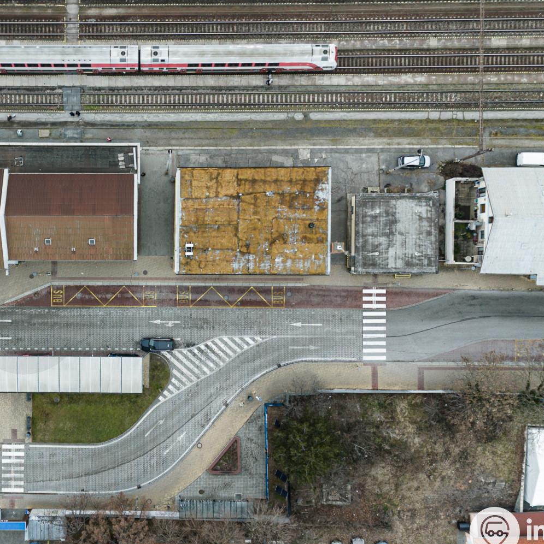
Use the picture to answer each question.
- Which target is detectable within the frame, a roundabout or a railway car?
railway car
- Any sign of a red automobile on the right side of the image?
No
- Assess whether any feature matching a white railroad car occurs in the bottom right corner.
No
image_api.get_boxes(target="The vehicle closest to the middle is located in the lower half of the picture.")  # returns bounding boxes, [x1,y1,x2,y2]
[140,336,175,353]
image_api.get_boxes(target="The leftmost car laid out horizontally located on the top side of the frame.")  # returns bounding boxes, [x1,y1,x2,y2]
[396,154,429,170]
